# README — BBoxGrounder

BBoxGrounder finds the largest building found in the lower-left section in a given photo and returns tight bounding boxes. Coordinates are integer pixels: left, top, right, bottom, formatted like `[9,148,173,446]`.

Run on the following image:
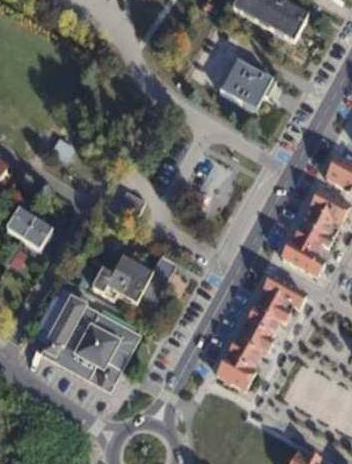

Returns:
[30,295,141,395]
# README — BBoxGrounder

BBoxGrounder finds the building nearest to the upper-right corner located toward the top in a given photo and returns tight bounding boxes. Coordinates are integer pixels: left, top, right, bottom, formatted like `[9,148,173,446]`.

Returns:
[232,0,309,48]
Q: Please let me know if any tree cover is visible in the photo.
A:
Yes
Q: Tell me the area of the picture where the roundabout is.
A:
bottom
